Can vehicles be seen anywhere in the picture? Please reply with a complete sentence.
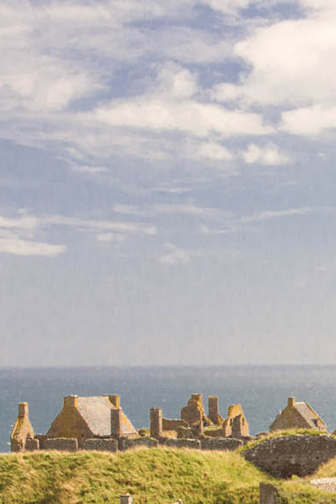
No, no vehicle is visible in the view.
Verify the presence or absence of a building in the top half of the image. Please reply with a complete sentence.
No, no building is visible in the top half of the image.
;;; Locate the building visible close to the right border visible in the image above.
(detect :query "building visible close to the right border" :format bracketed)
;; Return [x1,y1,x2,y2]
[268,397,336,432]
